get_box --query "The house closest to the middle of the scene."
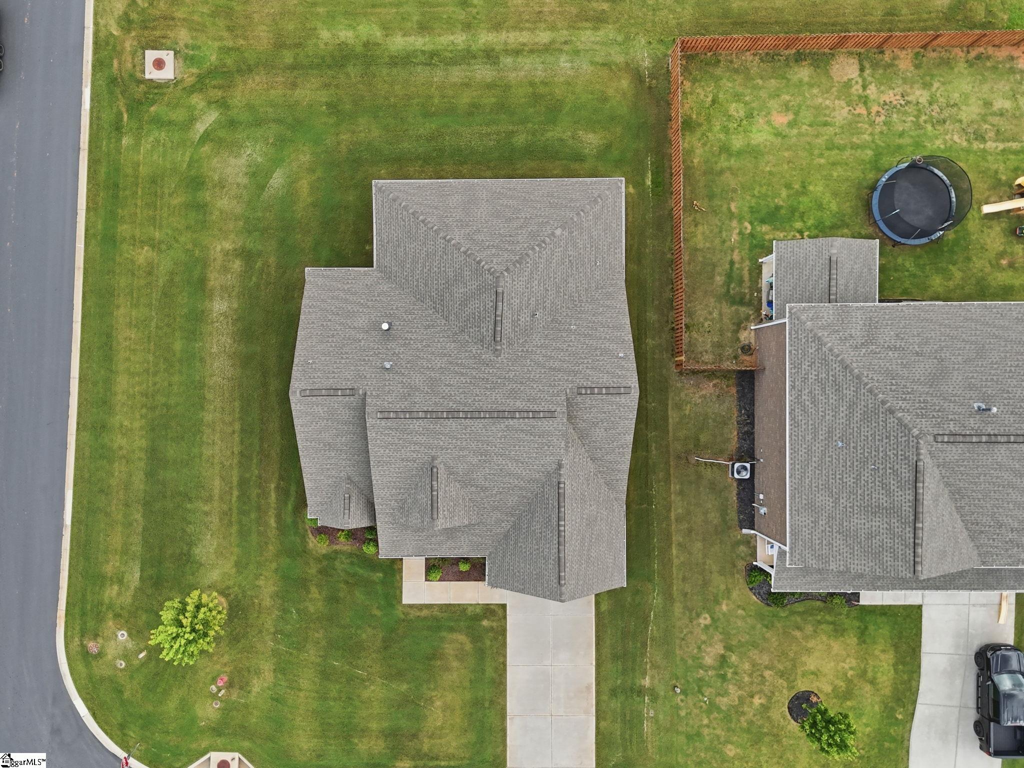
[291,179,638,601]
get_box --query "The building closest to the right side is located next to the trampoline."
[744,237,1024,592]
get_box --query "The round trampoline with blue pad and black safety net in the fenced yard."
[859,154,972,252]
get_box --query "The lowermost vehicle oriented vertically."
[973,642,1024,754]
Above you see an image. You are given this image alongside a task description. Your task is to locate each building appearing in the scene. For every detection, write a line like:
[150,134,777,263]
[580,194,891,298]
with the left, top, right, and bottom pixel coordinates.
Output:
[291,179,638,601]
[744,237,1024,592]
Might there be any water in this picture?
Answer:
No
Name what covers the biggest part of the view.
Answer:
grass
